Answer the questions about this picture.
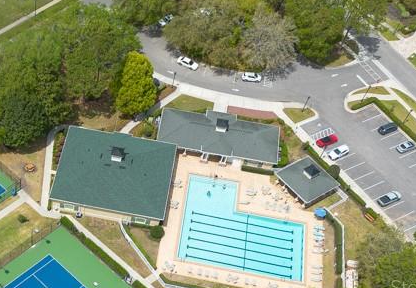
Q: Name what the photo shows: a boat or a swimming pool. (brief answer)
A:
swimming pool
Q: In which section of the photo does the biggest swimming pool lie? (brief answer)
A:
bottom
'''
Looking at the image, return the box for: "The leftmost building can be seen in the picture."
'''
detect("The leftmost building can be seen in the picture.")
[48,127,177,225]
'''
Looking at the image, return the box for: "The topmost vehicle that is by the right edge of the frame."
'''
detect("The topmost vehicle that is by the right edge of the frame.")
[376,122,398,137]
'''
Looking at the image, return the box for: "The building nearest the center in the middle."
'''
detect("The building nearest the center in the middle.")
[156,109,279,172]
